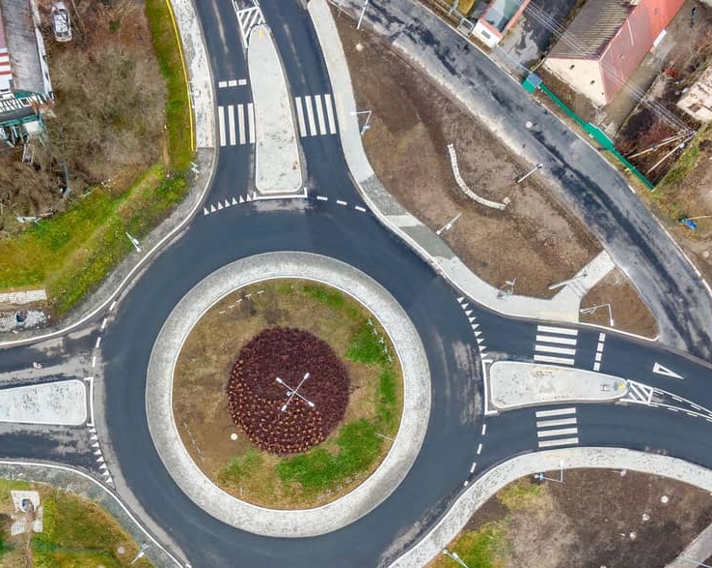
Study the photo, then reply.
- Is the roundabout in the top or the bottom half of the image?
bottom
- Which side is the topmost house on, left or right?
right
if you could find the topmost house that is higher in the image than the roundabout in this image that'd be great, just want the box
[473,0,534,49]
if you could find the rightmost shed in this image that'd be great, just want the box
[672,72,712,124]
